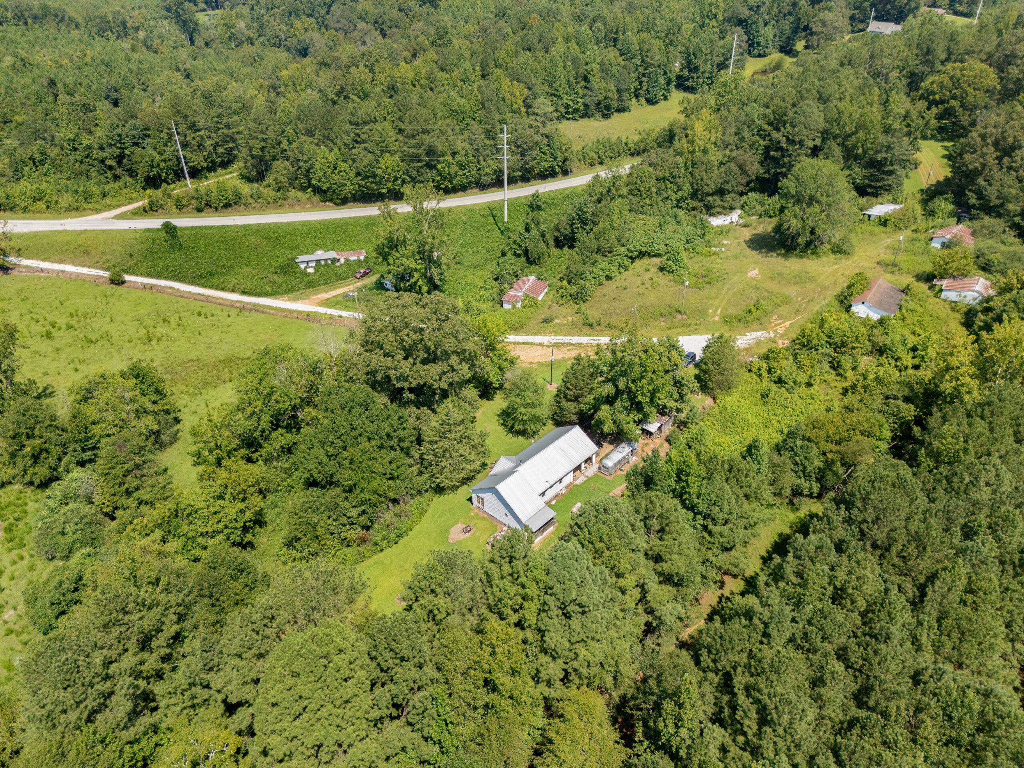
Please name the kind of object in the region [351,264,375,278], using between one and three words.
vehicle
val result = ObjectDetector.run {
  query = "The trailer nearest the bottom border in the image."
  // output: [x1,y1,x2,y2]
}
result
[597,435,641,474]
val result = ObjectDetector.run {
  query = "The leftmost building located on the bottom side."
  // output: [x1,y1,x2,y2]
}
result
[472,424,600,544]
